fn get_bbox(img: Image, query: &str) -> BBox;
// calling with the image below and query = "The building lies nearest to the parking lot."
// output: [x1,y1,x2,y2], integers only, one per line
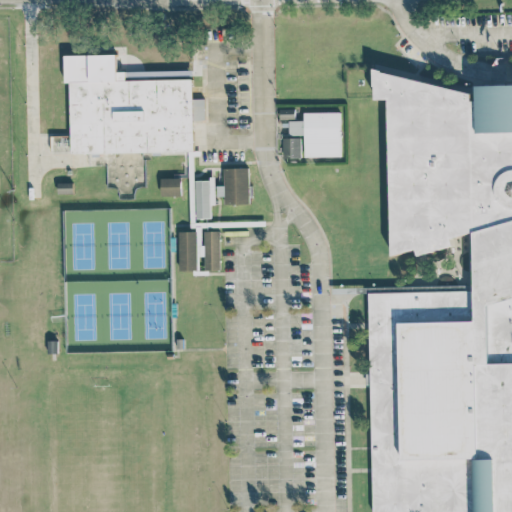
[204,232,221,271]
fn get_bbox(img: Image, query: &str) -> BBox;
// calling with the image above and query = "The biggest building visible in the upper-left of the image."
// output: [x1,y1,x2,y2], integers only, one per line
[63,46,196,154]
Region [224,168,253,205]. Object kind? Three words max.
building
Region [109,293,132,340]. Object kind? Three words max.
tennis court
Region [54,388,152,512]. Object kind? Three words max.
sports field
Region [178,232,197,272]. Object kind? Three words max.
building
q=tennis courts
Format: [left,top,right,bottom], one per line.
[72,294,98,341]
[142,221,168,268]
[72,223,96,270]
[106,222,132,270]
[144,292,167,340]
[109,293,132,340]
